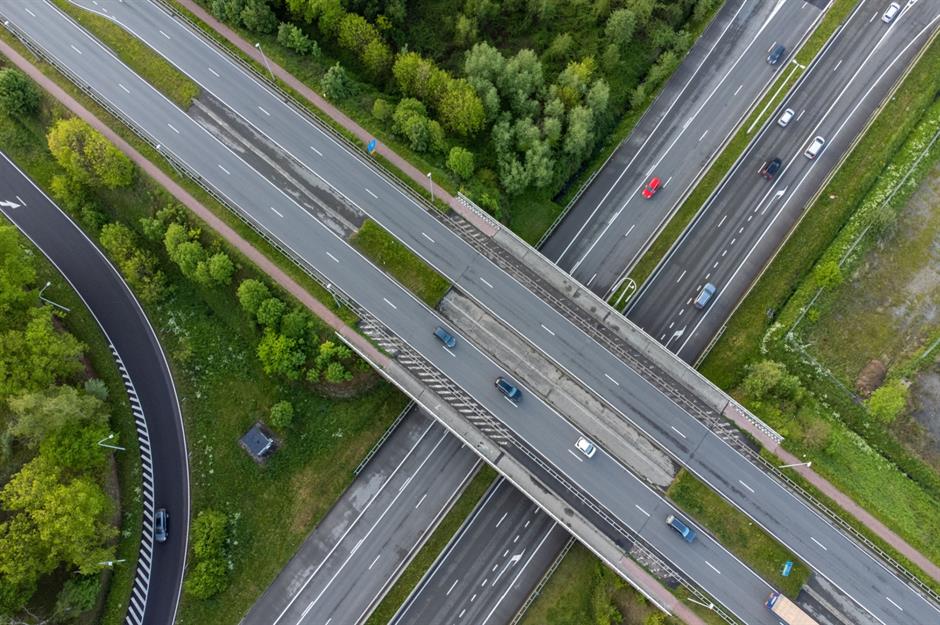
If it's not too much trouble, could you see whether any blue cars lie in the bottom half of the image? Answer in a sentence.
Yes, a blue car is visible in the bottom half of the image.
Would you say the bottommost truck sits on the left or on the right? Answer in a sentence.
The bottommost truck sits on the right side.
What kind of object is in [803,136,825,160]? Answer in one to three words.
car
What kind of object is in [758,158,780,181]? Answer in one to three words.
car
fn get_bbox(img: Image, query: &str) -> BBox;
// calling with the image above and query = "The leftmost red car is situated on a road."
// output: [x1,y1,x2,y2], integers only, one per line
[642,176,663,200]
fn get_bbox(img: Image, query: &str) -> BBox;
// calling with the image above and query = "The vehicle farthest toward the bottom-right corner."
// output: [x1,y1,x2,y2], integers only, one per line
[758,589,822,625]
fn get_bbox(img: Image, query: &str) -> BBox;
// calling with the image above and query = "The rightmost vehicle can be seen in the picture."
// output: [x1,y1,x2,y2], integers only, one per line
[880,3,900,24]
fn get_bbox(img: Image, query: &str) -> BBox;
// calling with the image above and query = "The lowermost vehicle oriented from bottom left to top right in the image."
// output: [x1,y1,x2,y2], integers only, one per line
[692,283,717,310]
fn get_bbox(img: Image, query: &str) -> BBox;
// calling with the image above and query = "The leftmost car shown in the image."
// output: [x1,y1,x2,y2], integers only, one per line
[151,508,172,542]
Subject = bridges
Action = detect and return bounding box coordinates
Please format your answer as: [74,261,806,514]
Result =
[334,192,785,616]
